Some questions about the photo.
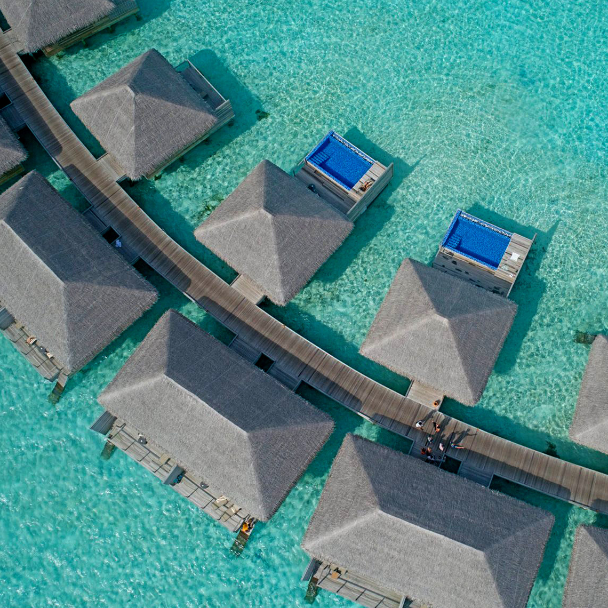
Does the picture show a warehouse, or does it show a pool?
pool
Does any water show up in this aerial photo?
Yes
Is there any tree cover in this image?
No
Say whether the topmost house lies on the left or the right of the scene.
left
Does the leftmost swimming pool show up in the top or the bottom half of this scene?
top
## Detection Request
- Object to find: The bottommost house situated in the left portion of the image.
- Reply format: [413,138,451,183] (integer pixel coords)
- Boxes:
[91,310,335,547]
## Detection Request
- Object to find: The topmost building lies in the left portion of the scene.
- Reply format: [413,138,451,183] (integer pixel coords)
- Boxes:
[0,0,140,66]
